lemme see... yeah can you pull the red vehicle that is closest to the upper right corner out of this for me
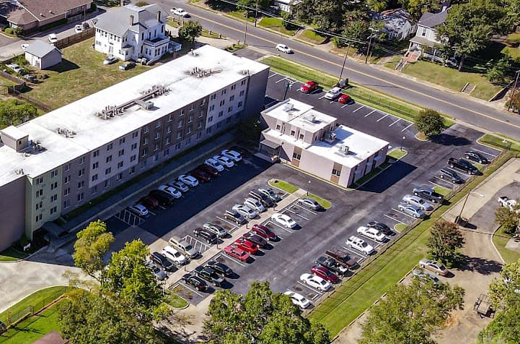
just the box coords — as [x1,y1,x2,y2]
[336,91,353,104]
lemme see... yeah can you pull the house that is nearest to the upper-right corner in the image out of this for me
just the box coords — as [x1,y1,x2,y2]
[404,14,449,59]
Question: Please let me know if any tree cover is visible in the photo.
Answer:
Yes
